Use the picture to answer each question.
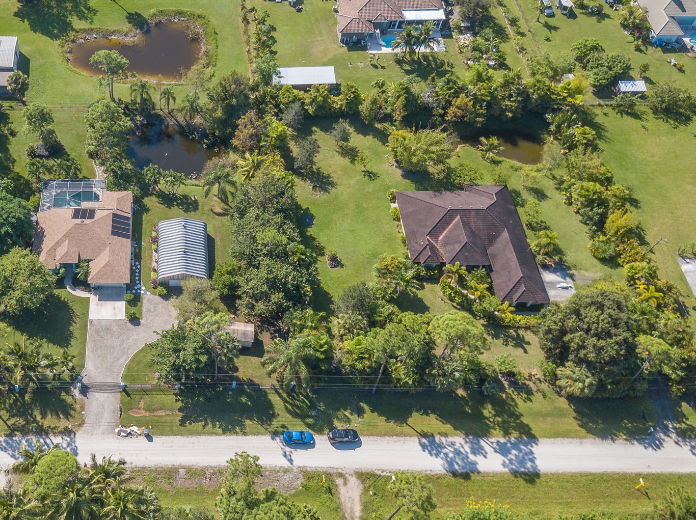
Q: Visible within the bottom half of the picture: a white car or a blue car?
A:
blue car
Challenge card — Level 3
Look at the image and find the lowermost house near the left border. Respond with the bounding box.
[33,176,132,292]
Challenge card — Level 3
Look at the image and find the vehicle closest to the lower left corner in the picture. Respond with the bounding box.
[283,430,316,448]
